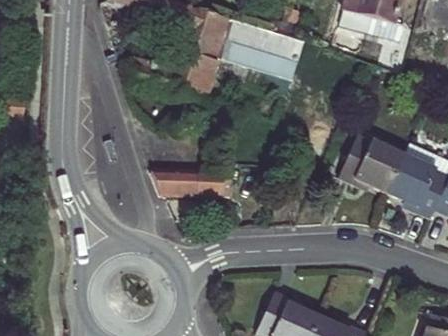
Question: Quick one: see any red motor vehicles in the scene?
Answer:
No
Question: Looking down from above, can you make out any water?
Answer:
No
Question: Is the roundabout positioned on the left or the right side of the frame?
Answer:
left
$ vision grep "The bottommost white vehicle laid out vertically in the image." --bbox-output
[75,230,88,264]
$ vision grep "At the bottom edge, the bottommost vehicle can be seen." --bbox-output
[356,304,371,326]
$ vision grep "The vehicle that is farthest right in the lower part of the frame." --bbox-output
[430,218,442,238]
